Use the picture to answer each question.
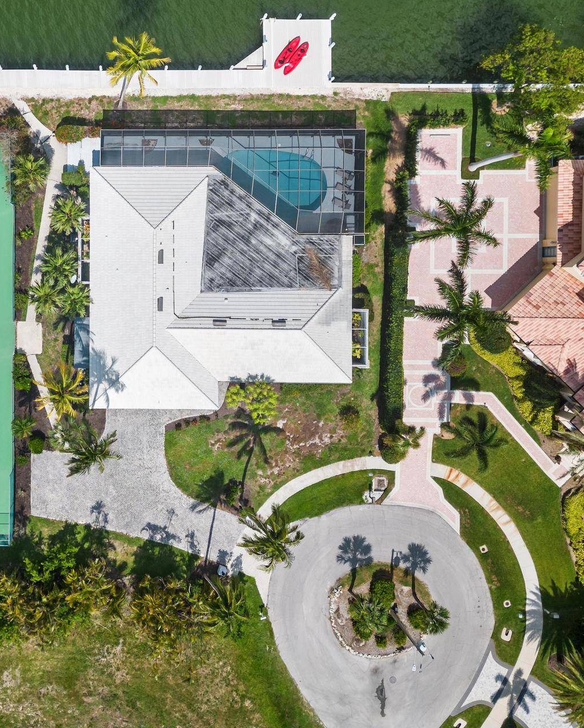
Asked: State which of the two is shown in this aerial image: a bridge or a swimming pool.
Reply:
swimming pool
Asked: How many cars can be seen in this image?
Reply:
0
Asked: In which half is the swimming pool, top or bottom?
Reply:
top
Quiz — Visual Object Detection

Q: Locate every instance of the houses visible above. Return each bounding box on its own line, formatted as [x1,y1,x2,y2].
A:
[499,160,584,449]
[89,166,353,409]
